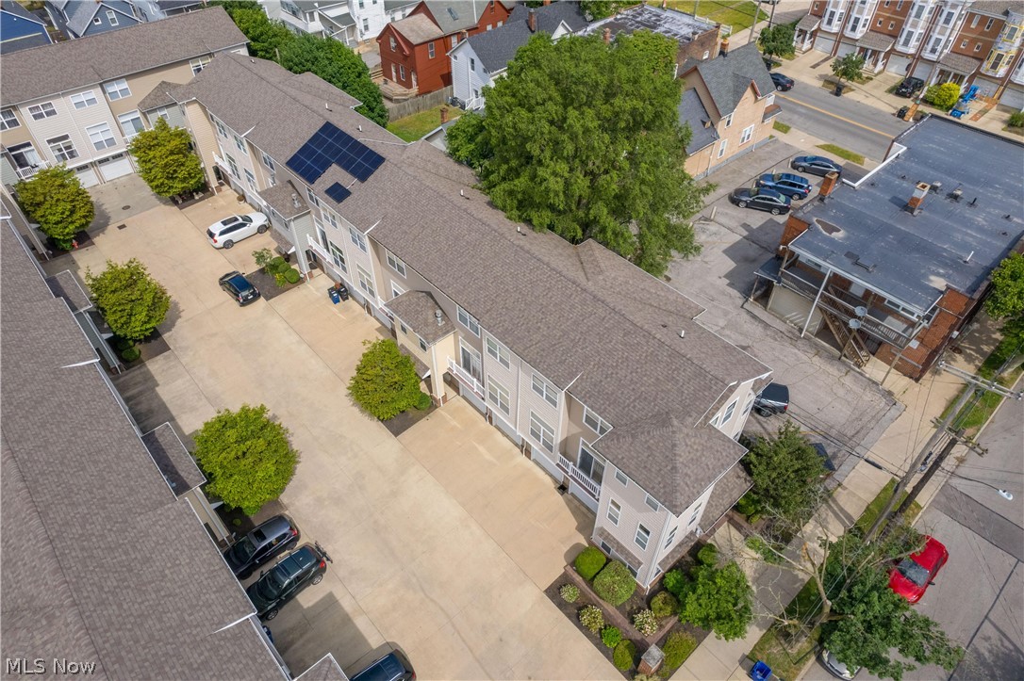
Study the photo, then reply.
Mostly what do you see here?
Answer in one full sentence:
What you mostly see from above here is buildings.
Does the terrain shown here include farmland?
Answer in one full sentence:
No, there is no farmland in the image.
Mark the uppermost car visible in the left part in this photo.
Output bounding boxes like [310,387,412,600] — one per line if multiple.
[203,211,272,248]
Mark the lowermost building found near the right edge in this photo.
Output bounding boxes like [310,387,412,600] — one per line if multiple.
[745,114,1024,386]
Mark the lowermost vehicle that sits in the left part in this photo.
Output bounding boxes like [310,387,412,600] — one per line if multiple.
[356,647,420,681]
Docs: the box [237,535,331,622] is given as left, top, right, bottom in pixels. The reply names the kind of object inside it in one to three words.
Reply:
car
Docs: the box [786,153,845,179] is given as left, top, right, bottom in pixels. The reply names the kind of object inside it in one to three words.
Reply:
car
